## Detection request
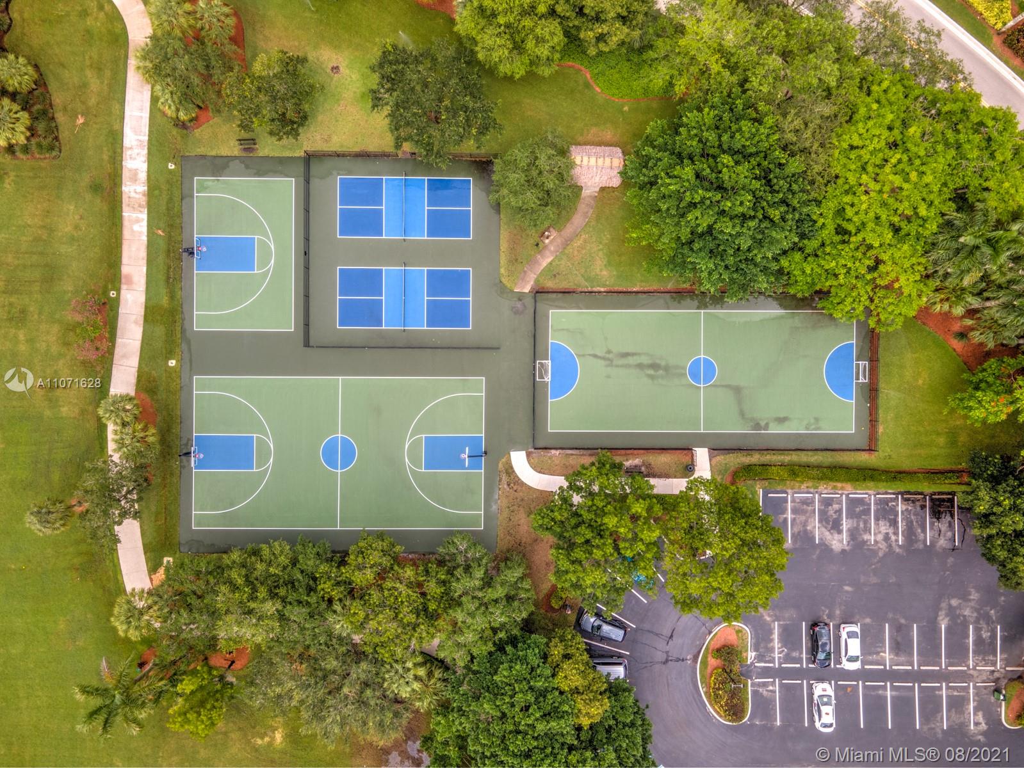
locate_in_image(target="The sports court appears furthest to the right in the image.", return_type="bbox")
[548,310,856,433]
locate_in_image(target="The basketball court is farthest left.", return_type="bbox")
[194,178,294,331]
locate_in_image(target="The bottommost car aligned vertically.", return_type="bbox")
[812,681,838,732]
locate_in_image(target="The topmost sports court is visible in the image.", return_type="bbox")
[337,177,472,239]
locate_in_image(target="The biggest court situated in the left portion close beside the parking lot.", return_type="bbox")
[193,377,485,530]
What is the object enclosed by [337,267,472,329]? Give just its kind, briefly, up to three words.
sports court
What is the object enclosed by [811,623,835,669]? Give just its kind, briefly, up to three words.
car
